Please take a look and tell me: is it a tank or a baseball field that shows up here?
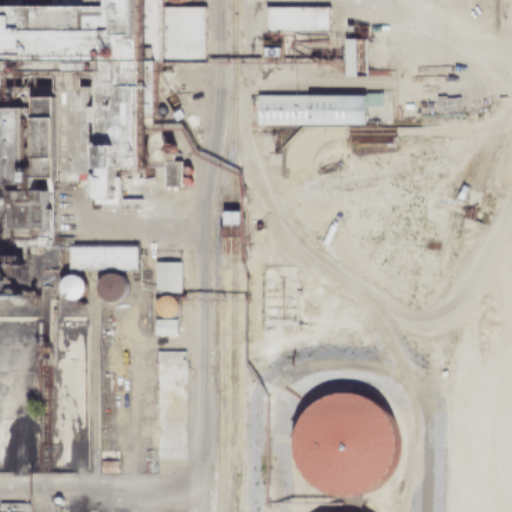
tank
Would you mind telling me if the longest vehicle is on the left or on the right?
right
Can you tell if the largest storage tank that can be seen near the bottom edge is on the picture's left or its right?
right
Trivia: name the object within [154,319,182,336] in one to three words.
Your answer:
shed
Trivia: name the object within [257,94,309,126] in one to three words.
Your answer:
building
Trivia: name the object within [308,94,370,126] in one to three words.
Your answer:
building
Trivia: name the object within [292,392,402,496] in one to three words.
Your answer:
storage tank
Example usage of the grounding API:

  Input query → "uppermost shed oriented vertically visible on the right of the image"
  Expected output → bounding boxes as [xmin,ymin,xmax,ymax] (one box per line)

[346,39,360,78]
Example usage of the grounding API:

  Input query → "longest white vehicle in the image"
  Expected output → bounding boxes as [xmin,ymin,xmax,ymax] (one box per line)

[323,214,343,246]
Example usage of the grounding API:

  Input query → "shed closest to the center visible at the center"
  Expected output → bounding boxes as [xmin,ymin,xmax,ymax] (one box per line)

[222,211,242,227]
